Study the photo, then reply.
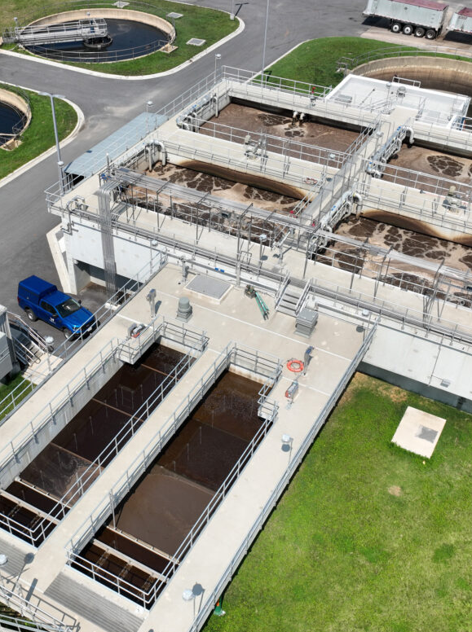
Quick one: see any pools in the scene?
No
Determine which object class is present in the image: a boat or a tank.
tank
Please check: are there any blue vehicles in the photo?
Yes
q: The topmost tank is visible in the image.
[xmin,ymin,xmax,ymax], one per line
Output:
[16,8,173,65]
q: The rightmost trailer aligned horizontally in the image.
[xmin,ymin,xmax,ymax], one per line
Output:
[362,0,450,40]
